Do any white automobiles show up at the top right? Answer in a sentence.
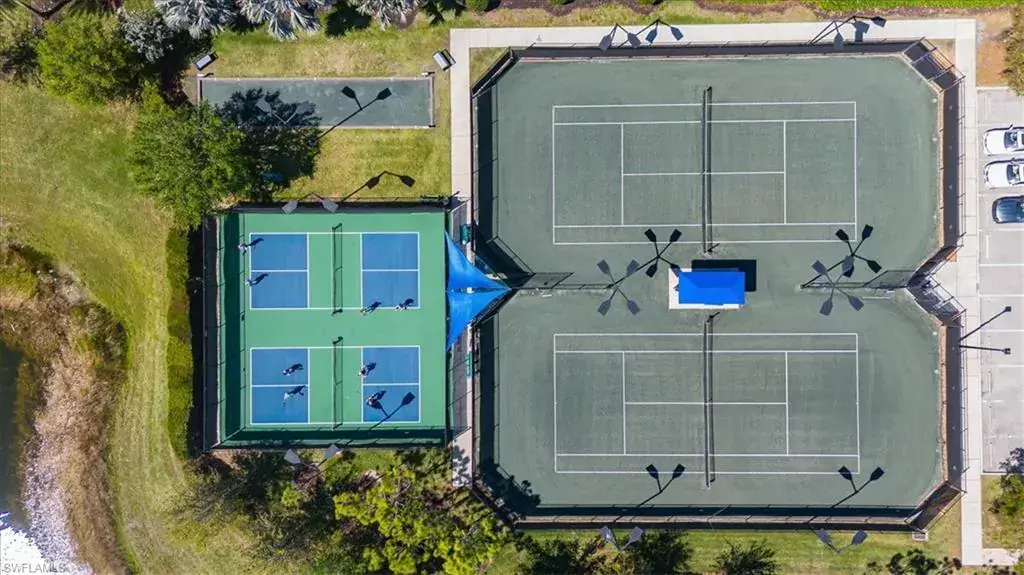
Yes, a white automobile appears at the top right.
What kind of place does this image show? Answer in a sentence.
It's a sports ground.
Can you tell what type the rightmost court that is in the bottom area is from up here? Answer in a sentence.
The rightmost court that is in the bottom area in the image is a tennis court.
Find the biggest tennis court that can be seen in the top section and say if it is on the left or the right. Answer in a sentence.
The biggest tennis court that can be seen in the top section is on the right side of the image.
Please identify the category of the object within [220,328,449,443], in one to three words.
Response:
sports court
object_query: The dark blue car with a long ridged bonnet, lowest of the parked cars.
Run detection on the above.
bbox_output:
[991,196,1024,222]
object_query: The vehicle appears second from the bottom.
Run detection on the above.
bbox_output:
[983,157,1024,188]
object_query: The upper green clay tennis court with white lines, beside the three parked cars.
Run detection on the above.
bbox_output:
[474,53,944,288]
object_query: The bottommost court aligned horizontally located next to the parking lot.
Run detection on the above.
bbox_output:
[474,287,946,522]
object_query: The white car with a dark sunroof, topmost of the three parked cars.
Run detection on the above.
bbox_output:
[983,124,1024,155]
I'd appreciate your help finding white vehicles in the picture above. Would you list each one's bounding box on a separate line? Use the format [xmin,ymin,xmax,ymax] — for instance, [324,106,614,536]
[983,157,1024,188]
[983,124,1024,155]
